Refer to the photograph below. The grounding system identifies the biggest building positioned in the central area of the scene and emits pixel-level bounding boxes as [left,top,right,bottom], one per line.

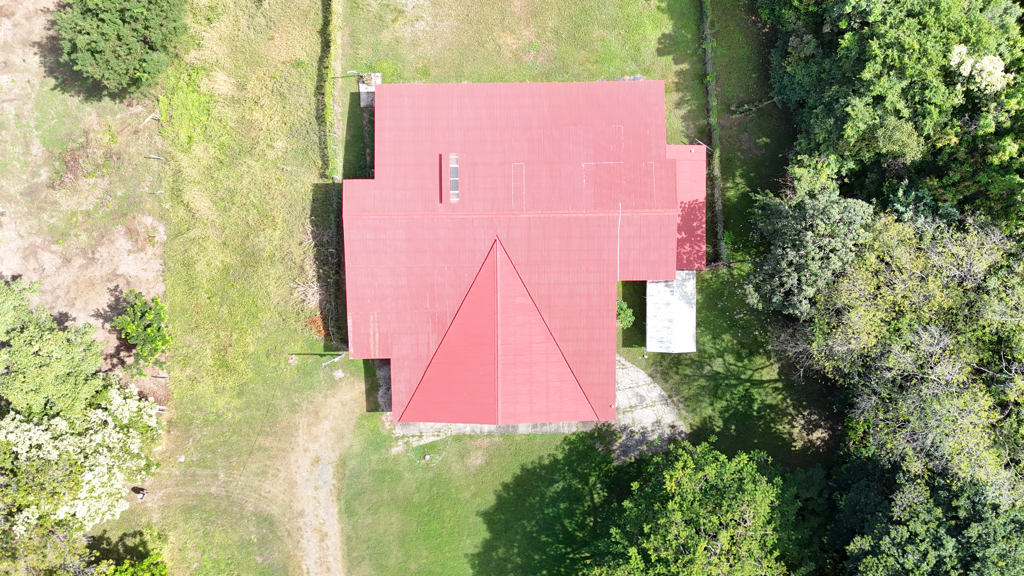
[341,80,706,425]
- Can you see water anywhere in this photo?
No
